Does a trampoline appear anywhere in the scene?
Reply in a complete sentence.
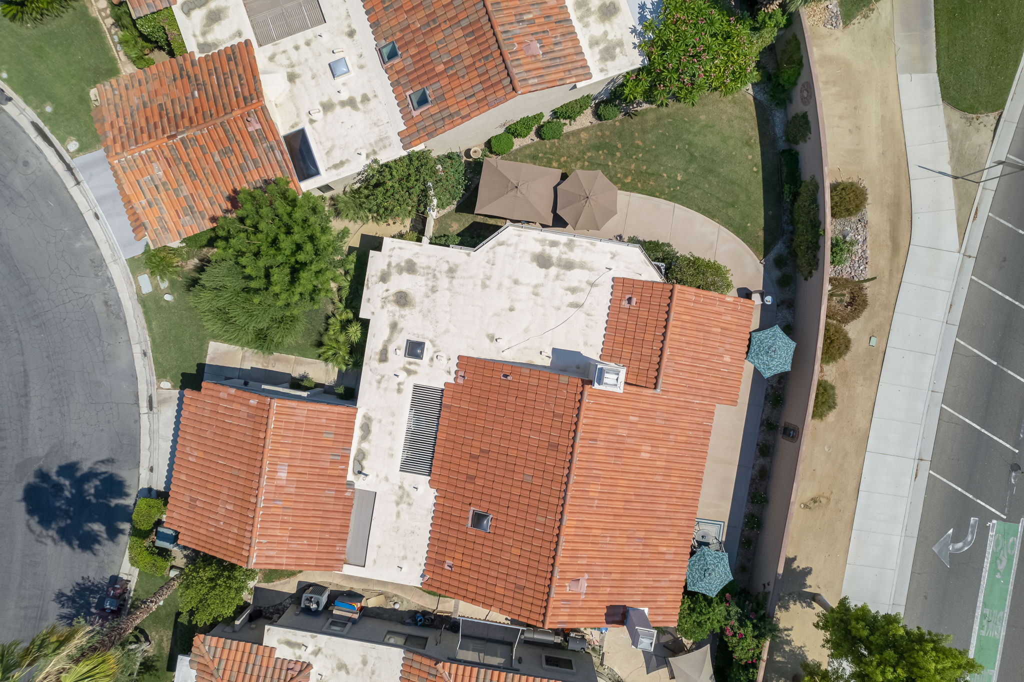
No, I find no trampoline anywhere in the image.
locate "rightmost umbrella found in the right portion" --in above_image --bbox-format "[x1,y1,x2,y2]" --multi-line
[746,325,797,378]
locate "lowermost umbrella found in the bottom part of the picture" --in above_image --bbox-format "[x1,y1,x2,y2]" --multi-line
[657,644,713,682]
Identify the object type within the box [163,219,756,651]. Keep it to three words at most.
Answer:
house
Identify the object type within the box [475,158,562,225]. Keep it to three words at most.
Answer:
umbrella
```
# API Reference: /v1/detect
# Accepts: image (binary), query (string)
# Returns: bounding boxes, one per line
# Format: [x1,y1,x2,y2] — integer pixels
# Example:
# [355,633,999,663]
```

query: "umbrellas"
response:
[475,158,562,225]
[657,644,713,682]
[557,170,617,230]
[746,325,797,378]
[687,546,733,598]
